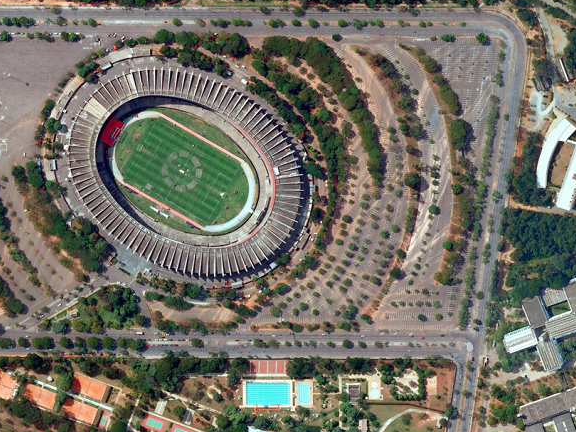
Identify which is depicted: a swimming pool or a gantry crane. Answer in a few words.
swimming pool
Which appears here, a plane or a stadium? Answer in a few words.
stadium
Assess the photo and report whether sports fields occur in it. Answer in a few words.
Yes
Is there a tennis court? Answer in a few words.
Yes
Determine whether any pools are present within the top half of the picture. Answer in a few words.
No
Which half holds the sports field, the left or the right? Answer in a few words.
left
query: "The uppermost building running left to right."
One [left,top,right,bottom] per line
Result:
[98,49,151,67]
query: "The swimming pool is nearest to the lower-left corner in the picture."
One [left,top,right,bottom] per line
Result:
[243,379,292,407]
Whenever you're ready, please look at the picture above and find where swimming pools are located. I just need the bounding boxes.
[295,379,312,407]
[369,379,380,390]
[243,379,292,407]
[370,388,381,399]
